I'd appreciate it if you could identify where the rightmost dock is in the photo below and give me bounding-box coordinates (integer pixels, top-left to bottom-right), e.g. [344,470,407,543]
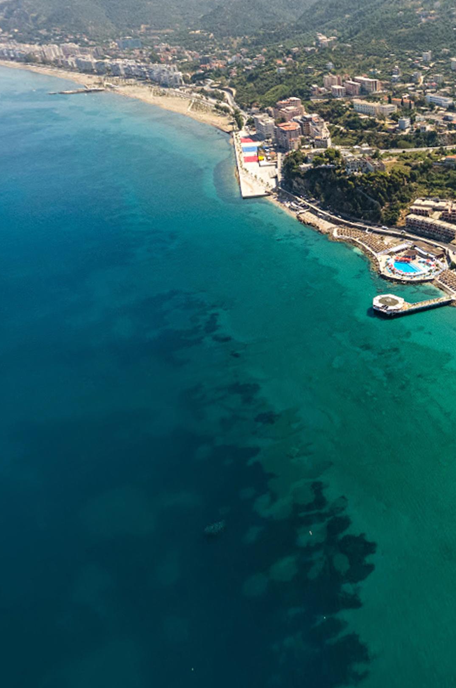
[403,294,456,313]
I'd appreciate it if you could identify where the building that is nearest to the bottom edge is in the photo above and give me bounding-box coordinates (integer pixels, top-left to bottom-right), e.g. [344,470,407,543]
[372,294,405,316]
